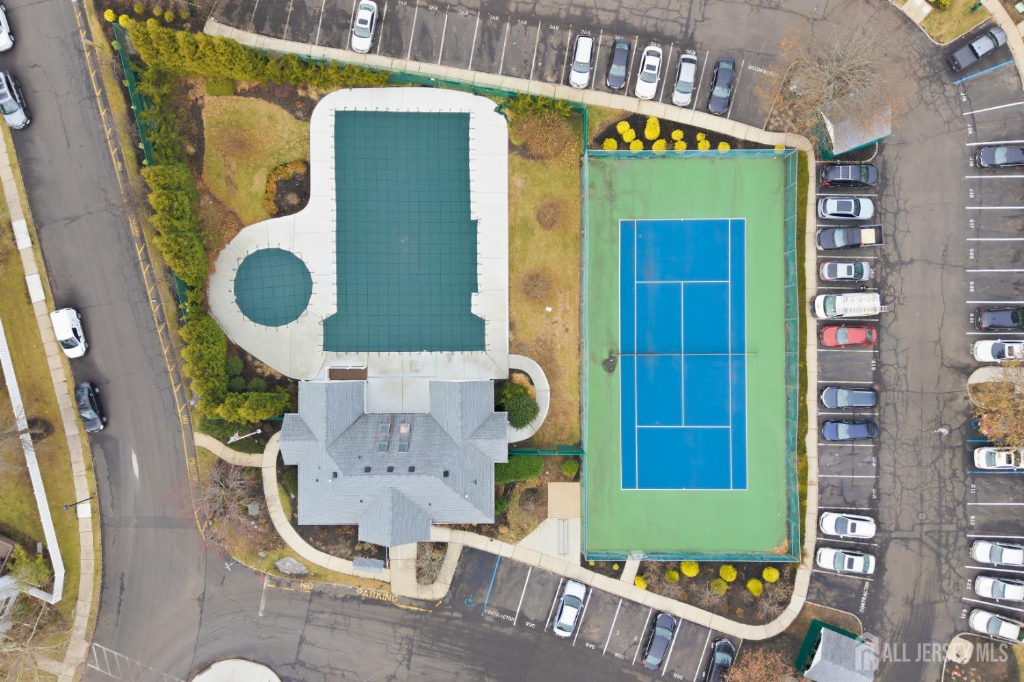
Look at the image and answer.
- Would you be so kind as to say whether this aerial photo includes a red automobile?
Yes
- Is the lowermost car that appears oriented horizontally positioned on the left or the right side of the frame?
right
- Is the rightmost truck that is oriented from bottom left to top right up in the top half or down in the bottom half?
top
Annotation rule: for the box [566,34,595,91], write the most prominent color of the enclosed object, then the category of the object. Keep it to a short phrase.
white car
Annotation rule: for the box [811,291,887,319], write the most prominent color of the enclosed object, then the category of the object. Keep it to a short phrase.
white van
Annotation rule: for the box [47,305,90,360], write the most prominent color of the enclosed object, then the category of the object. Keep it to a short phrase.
white van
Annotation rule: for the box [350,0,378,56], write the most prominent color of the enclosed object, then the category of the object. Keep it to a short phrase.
white car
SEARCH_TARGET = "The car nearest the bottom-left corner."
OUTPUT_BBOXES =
[76,382,109,432]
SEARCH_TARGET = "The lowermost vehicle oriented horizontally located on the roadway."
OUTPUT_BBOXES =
[966,608,1024,641]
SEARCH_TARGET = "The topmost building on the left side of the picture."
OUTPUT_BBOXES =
[279,381,508,547]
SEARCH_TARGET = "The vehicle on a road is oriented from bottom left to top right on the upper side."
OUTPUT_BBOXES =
[941,25,1009,77]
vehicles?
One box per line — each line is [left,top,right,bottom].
[817,194,873,221]
[604,37,631,92]
[816,223,884,250]
[819,418,876,443]
[642,611,674,669]
[971,338,1024,364]
[819,322,876,348]
[350,0,378,56]
[553,579,585,637]
[941,25,1009,77]
[817,511,875,538]
[670,53,698,109]
[969,574,1024,602]
[703,637,736,682]
[47,305,90,360]
[819,160,877,188]
[819,259,869,284]
[76,382,109,432]
[972,305,1024,332]
[706,56,735,116]
[566,34,595,91]
[966,608,1024,641]
[814,546,873,574]
[820,384,877,411]
[811,291,887,319]
[0,74,33,130]
[971,143,1024,169]
[634,45,662,102]
[967,539,1024,566]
